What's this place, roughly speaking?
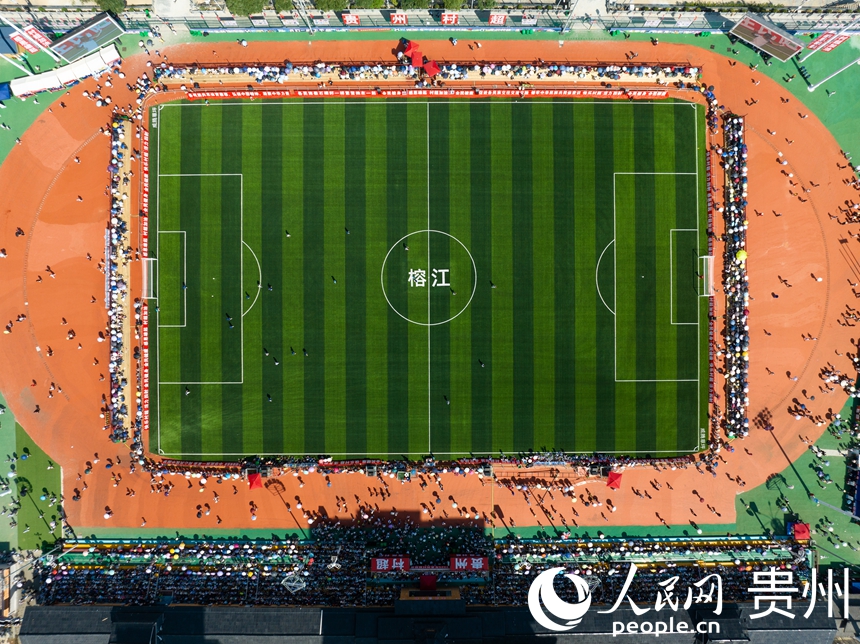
sports ground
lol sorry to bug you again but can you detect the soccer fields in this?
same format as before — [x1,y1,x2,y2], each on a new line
[149,97,709,462]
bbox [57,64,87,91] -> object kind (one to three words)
tent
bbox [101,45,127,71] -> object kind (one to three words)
tent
